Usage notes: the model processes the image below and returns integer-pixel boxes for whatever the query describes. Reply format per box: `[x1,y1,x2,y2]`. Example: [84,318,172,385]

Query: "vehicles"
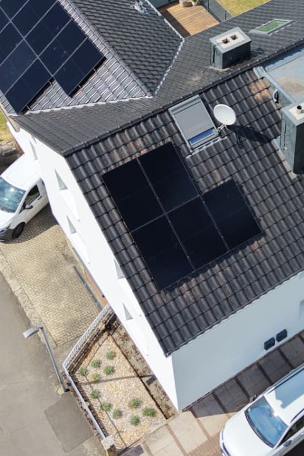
[228,372,304,456]
[0,128,45,237]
